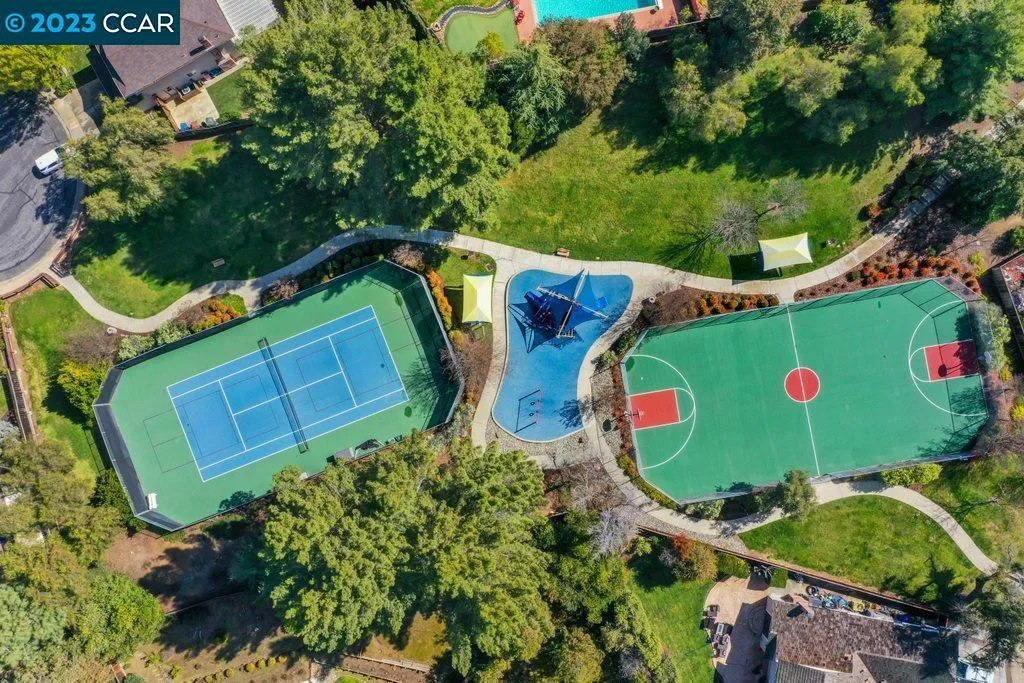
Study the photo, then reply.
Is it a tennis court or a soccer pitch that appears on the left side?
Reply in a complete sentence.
What appears on the left side is a tennis court.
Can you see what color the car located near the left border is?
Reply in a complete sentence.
From above, the car located near the left border appears white.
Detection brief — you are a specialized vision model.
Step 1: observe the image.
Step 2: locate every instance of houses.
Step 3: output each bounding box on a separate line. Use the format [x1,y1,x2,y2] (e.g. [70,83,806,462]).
[760,592,959,683]
[70,0,239,102]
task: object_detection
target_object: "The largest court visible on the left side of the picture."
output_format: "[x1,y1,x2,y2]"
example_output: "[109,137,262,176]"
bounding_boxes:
[110,265,464,523]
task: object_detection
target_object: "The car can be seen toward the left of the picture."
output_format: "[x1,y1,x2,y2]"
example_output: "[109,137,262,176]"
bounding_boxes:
[32,146,74,175]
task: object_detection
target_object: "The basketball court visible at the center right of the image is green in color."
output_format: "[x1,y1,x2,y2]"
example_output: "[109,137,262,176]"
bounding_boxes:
[620,277,990,504]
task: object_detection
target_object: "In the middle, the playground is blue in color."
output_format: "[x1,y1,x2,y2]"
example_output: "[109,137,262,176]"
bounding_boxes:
[491,270,633,443]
